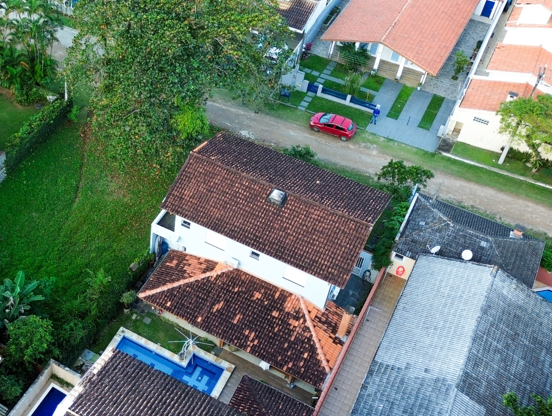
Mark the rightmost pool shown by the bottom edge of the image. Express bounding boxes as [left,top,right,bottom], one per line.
[111,330,233,401]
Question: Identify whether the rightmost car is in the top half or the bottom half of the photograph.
top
